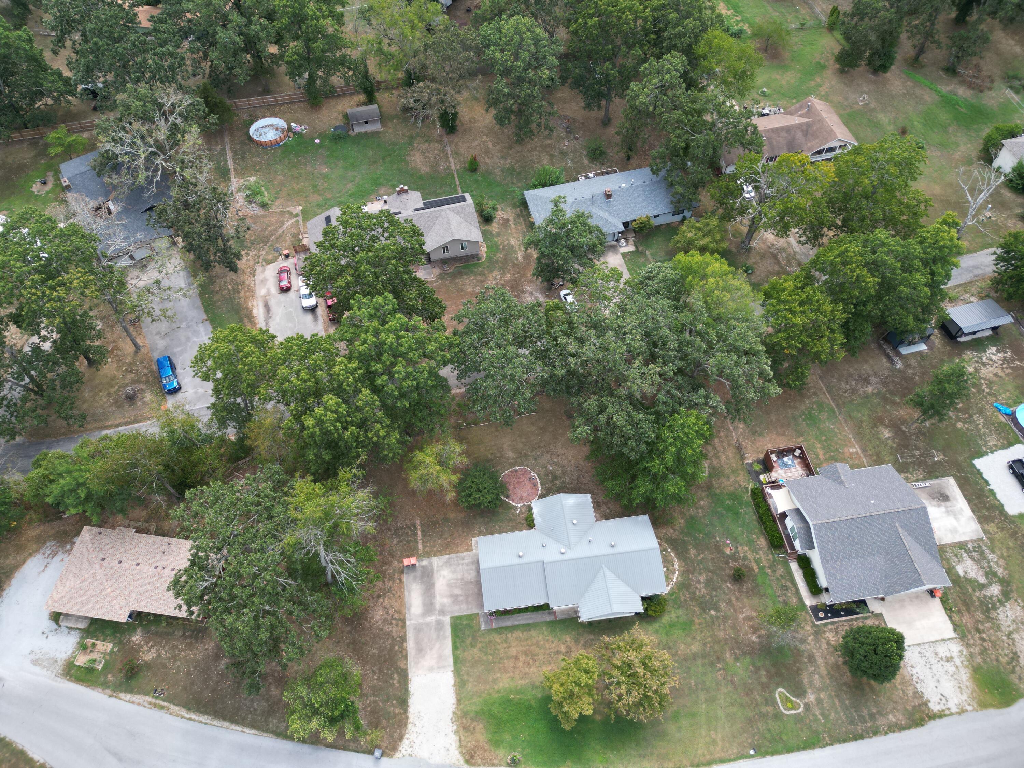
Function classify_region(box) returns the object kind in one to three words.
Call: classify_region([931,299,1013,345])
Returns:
shed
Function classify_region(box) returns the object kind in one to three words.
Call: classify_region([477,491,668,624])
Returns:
house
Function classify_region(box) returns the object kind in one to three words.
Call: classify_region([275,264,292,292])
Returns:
car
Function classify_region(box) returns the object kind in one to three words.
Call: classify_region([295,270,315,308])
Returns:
vehicle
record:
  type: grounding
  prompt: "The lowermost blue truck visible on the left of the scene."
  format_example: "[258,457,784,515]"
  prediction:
[152,349,179,390]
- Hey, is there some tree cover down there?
Yes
